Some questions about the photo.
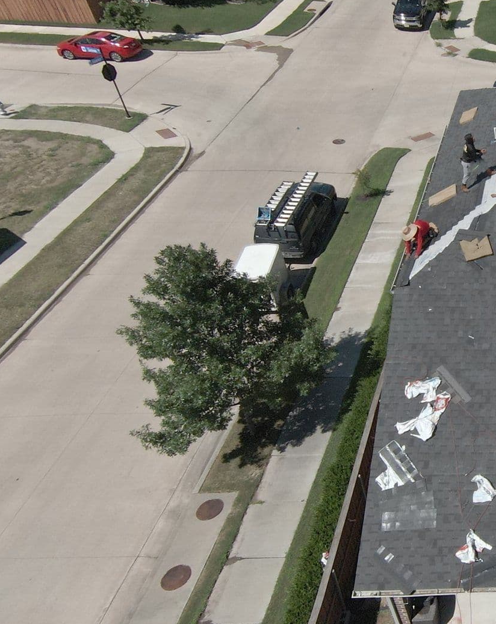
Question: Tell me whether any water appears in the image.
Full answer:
No, the scene doesn't show any water.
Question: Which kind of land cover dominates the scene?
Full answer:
The bulk of the photo consists of paved ground.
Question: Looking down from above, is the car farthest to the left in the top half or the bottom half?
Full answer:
It is in the top half that the car farthest to the left appears.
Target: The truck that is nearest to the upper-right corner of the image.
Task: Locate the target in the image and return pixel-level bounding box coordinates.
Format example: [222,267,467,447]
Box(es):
[389,0,434,29]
